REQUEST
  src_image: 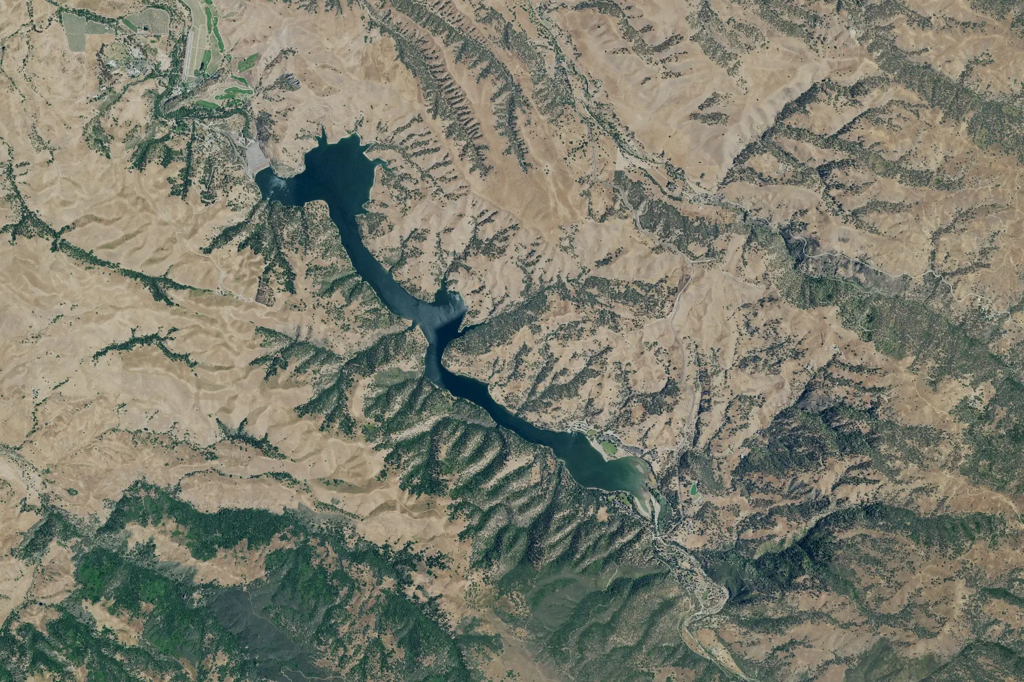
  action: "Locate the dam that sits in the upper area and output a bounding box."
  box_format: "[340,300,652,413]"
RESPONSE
[245,142,271,178]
